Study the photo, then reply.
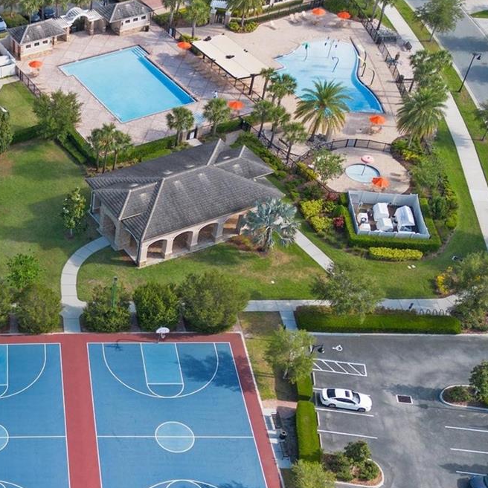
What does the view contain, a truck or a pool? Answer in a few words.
pool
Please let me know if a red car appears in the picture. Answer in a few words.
No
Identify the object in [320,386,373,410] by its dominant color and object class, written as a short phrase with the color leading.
white car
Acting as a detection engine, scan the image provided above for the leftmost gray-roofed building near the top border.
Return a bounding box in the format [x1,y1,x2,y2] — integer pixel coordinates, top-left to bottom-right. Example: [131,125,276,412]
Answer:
[5,19,66,59]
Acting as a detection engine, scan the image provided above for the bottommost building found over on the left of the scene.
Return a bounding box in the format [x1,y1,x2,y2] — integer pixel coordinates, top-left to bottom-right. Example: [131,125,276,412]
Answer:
[86,139,284,268]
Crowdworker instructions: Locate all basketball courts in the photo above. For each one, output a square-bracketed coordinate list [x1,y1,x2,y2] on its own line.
[0,336,87,488]
[73,332,281,488]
